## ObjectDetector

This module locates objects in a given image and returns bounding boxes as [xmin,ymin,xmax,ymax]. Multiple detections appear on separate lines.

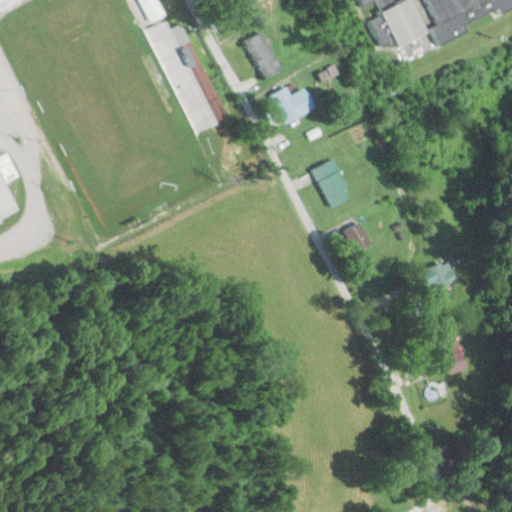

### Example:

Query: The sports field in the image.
[0,0,219,241]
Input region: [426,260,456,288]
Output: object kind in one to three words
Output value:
house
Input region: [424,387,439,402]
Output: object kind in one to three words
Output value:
swimming pool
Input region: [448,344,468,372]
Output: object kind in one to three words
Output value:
house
